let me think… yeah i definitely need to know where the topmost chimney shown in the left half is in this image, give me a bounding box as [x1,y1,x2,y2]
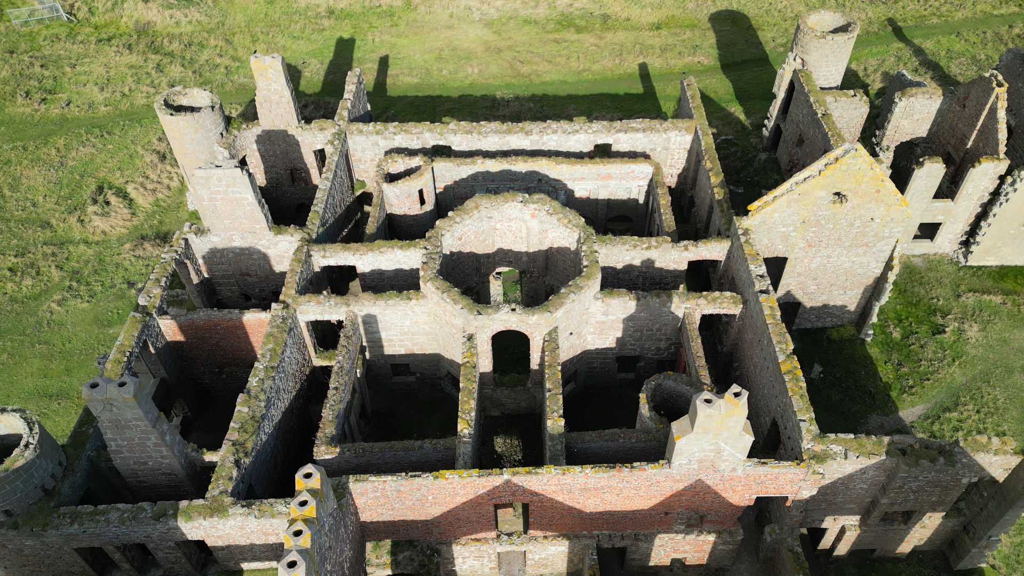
[254,50,304,134]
